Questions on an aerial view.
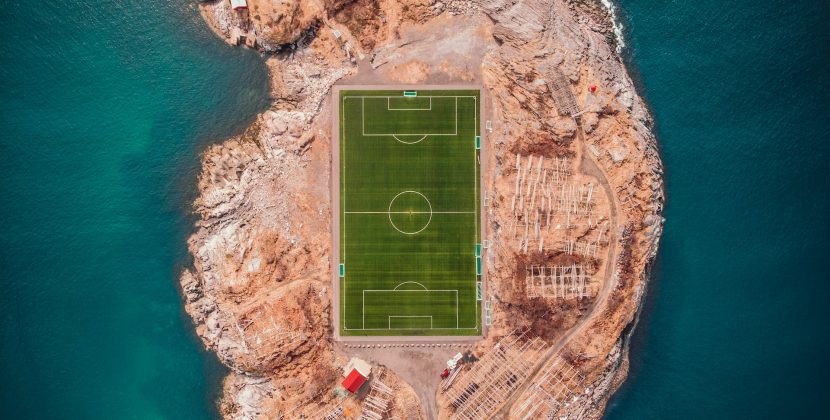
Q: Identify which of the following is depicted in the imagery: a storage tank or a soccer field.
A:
soccer field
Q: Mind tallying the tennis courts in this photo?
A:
0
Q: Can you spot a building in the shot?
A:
Yes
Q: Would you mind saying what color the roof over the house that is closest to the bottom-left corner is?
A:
red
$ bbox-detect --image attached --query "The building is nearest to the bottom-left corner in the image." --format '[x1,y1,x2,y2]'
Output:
[342,368,366,393]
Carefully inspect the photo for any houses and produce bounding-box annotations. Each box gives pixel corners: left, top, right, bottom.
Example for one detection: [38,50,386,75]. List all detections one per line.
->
[342,368,366,393]
[231,0,249,11]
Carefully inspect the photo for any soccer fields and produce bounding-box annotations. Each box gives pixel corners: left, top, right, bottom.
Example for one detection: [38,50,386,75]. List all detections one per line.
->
[340,90,482,336]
